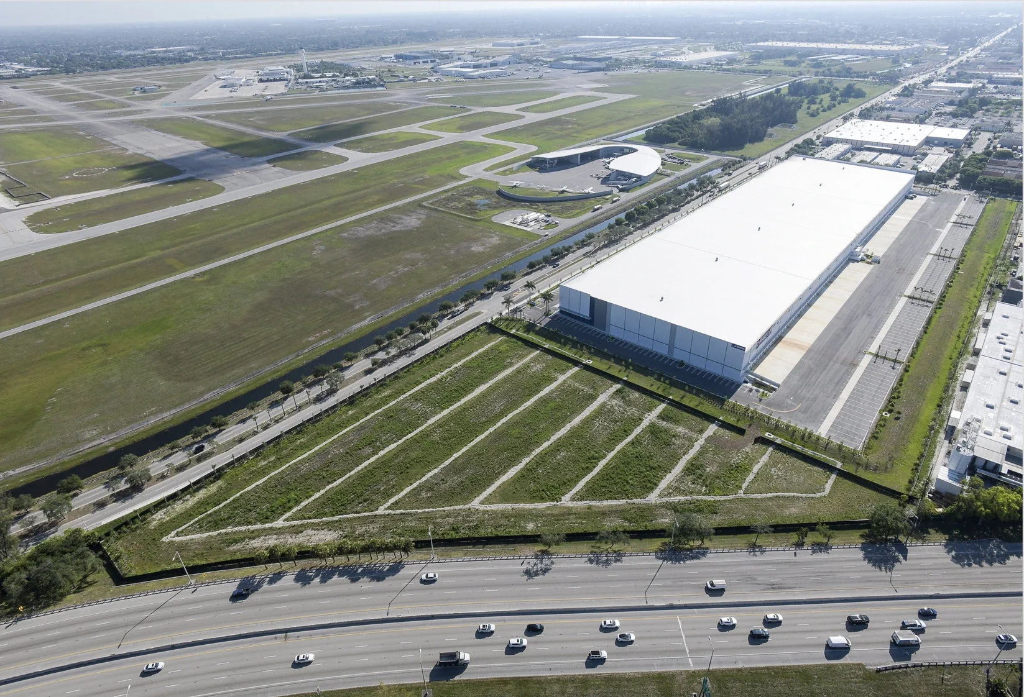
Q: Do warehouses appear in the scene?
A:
Yes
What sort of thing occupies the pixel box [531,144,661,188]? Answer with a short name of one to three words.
hangar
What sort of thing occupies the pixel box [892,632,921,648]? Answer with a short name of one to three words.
vehicle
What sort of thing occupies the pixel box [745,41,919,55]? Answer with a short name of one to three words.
building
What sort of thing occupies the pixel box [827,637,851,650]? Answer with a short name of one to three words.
vehicle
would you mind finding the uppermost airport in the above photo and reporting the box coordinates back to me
[0,36,789,273]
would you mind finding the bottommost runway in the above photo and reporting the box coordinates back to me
[71,122,291,189]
